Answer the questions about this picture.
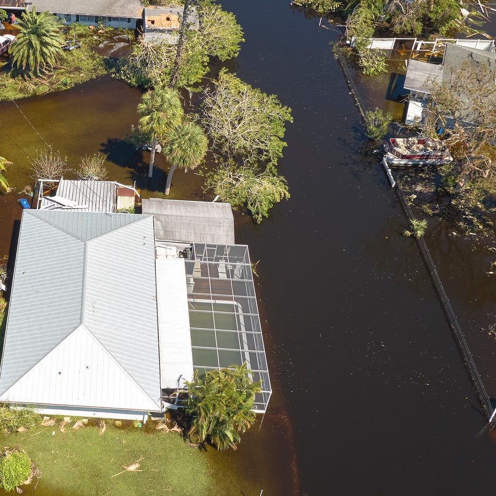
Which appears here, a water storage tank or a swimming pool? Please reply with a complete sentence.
Of the two, only a swimming pool appears.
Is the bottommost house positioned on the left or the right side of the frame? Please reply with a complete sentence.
The bottommost house appears in the left half of the scene.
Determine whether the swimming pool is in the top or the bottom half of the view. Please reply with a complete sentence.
It is in the bottom half that the swimming pool appears.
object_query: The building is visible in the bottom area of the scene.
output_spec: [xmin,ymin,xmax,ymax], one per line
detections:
[0,209,194,434]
